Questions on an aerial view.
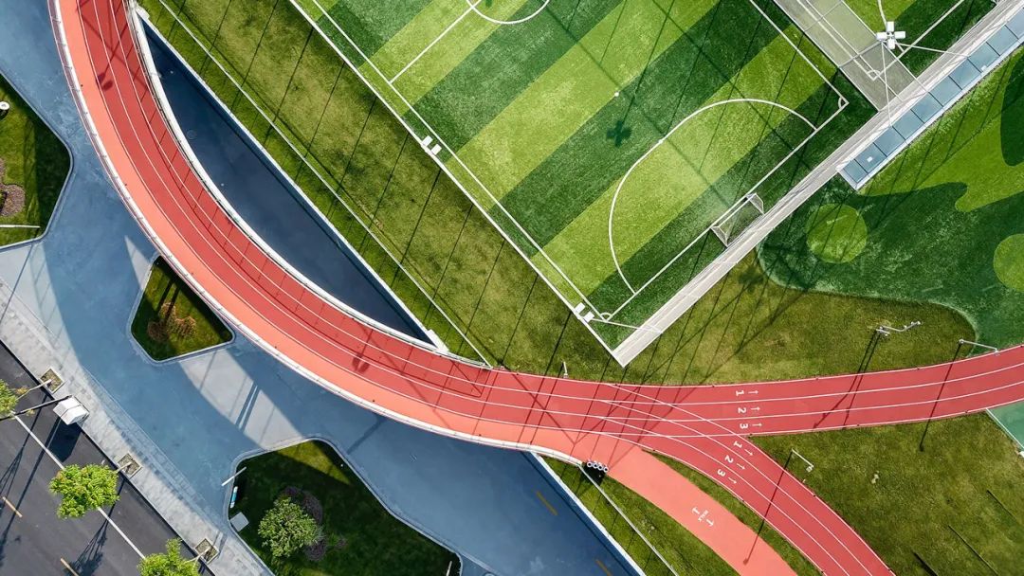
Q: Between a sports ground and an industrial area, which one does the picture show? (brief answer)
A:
sports ground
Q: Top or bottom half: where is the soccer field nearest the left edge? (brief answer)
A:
top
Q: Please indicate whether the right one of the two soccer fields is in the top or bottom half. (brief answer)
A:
top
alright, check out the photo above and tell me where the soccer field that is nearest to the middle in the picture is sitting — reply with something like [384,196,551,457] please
[295,0,879,351]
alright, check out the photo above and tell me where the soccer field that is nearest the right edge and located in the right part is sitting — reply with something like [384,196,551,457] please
[786,0,1007,111]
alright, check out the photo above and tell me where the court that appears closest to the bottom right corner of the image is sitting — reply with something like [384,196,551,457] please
[984,399,1024,450]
